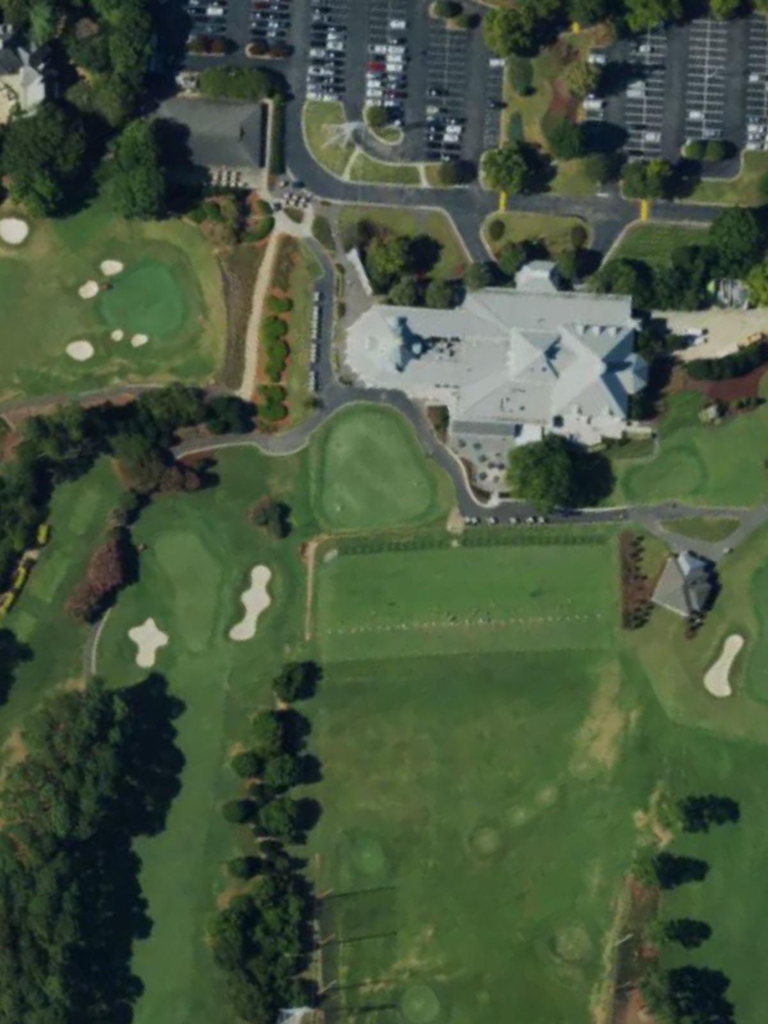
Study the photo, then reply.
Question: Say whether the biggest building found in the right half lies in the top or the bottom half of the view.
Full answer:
The biggest building found in the right half sits in the top half of the picture.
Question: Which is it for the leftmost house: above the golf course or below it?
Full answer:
The position of the leftmost house is above the golf course.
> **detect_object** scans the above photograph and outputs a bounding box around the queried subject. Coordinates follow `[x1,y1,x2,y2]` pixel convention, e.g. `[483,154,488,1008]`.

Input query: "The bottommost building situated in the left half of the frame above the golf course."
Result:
[158,99,262,168]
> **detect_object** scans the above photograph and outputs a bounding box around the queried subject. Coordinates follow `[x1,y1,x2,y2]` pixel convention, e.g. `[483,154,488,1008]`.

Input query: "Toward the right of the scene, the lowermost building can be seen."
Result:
[651,549,712,617]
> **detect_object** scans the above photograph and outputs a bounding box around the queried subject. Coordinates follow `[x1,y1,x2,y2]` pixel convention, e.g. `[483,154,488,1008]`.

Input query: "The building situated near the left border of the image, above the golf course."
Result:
[0,26,45,125]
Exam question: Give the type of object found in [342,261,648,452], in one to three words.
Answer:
building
